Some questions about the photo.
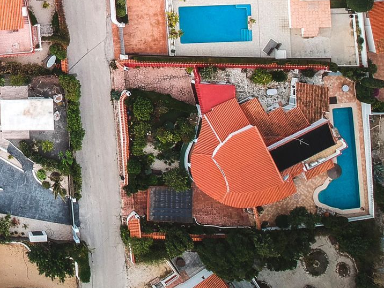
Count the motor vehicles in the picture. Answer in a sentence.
I count no motor vehicles.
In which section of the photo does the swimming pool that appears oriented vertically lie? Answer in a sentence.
The swimming pool that appears oriented vertically is in the right part of the image.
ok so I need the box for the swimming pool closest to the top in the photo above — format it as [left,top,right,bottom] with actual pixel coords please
[177,2,255,46]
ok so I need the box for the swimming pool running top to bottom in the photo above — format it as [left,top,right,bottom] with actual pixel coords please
[314,103,367,215]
